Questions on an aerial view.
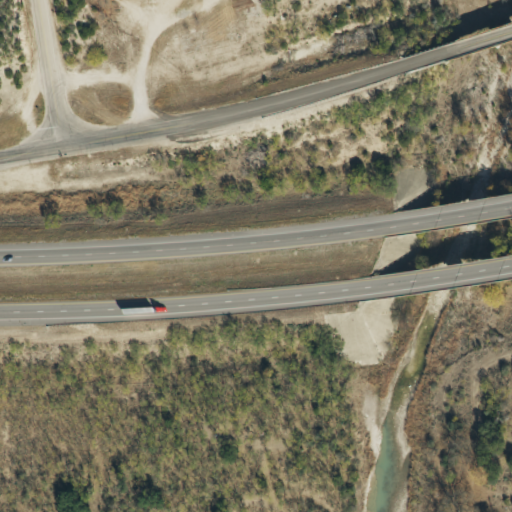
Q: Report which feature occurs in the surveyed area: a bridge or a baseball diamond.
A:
bridge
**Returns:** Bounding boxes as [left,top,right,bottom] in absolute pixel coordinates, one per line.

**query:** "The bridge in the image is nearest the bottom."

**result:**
[366,254,512,301]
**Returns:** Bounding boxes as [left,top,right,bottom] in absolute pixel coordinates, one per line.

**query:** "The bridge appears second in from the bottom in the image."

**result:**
[389,193,512,238]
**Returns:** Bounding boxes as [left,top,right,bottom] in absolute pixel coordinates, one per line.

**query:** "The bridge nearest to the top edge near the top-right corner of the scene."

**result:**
[405,21,512,72]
